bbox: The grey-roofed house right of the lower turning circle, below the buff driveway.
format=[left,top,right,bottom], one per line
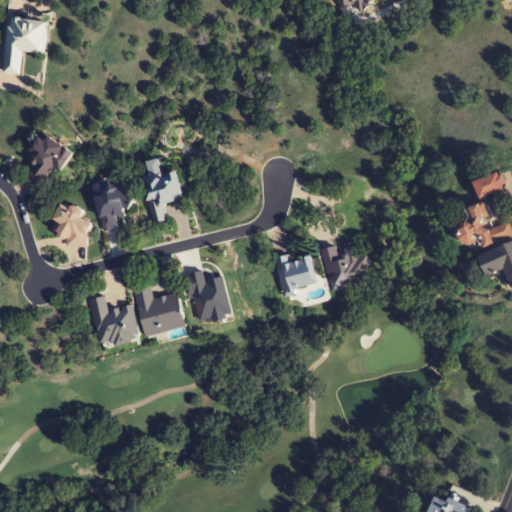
[88,295,140,347]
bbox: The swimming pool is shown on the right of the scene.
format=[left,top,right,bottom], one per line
[288,270,332,307]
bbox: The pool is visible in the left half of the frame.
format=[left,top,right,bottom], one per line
[167,326,188,342]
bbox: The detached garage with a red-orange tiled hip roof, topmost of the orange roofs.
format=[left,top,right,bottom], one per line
[472,170,508,197]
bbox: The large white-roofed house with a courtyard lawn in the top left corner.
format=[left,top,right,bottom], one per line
[5,18,50,77]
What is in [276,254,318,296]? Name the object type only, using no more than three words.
house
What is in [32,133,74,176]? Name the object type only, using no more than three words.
house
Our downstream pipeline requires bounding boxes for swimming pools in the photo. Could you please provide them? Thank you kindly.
[288,270,332,307]
[167,326,188,342]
